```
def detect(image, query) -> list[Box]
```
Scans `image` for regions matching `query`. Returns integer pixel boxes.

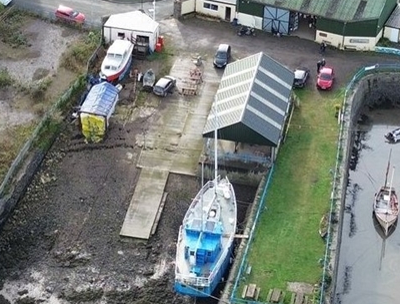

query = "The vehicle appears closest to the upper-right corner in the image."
[317,66,336,89]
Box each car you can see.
[52,3,87,23]
[210,43,234,66]
[295,66,310,89]
[317,66,336,89]
[148,72,179,96]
